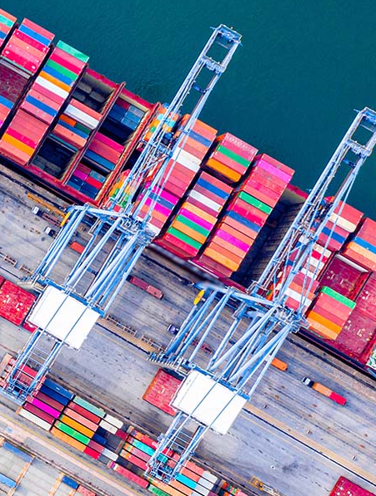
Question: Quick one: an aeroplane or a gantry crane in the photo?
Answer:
gantry crane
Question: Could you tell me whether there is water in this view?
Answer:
Yes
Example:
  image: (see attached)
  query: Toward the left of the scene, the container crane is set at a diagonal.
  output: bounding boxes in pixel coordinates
[0,21,245,416]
